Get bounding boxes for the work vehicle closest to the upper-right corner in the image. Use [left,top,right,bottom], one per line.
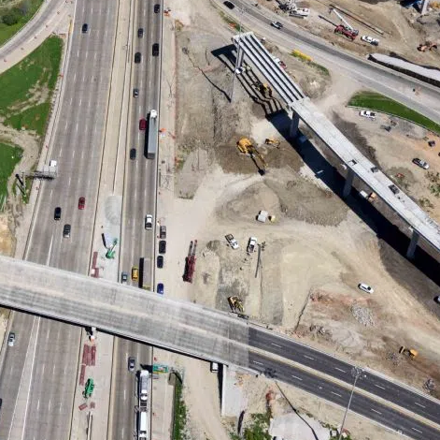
[406,34,437,51]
